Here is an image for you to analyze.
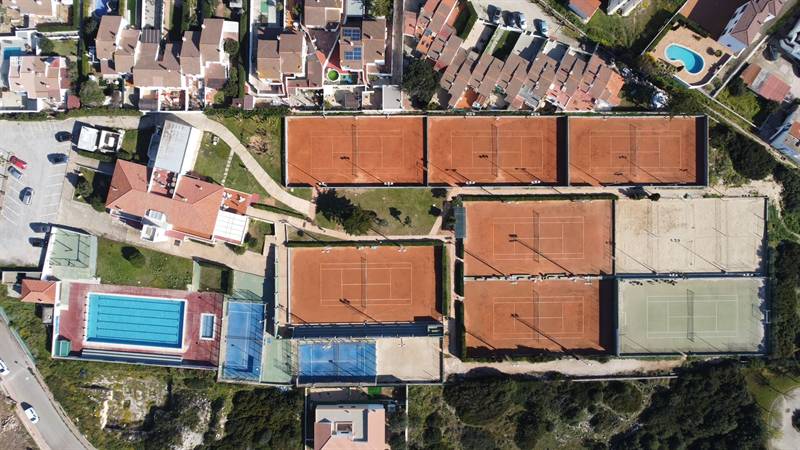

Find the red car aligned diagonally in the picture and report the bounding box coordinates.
[10,156,27,169]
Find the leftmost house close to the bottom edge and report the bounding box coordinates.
[315,402,385,450]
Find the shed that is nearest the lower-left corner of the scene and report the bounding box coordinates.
[55,338,76,356]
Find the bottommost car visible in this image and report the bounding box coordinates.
[27,406,40,423]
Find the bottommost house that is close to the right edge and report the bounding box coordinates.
[762,116,800,173]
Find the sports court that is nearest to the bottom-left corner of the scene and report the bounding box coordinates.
[47,230,97,283]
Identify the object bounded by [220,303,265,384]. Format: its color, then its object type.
blue sports court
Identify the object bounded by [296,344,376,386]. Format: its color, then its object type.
blue sports court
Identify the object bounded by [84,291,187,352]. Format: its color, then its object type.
blue swimming pool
